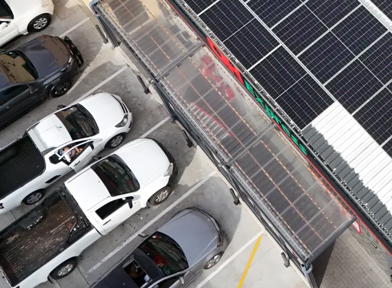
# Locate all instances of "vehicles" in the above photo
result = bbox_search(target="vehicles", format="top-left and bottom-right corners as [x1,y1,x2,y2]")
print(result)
[0,90,125,212]
[0,0,50,48]
[0,23,83,122]
[81,210,222,288]
[0,137,173,288]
